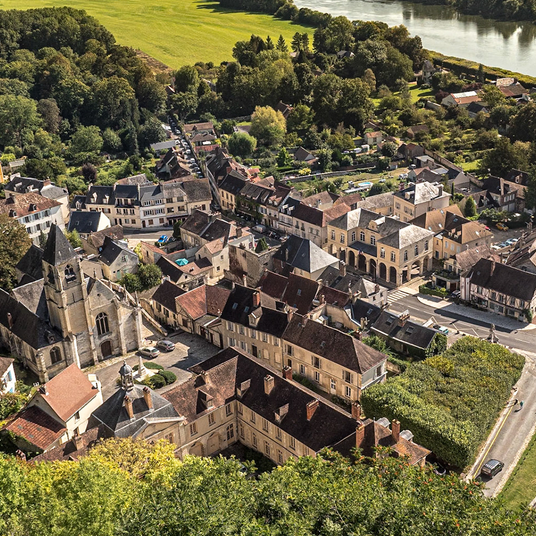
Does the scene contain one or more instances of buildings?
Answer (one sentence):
Yes, the photo shows a building.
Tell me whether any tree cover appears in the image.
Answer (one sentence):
Yes, the picture does contain tree cover.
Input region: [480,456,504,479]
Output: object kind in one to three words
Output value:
car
